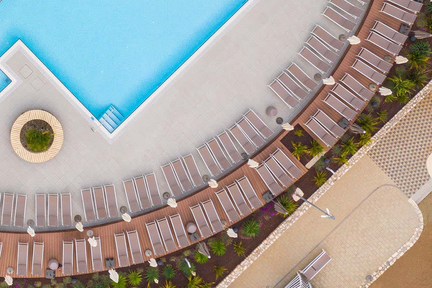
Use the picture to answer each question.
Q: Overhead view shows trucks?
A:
No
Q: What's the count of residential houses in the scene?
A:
zero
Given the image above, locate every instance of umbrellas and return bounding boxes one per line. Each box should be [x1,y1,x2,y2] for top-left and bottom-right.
[162,190,177,206]
[383,53,410,64]
[337,33,362,43]
[86,229,98,246]
[74,213,85,230]
[368,83,394,94]
[104,257,120,281]
[241,151,259,165]
[143,248,158,267]
[338,117,369,132]
[221,218,237,235]
[262,191,287,211]
[201,173,218,188]
[25,219,35,236]
[400,24,432,35]
[313,73,335,84]
[275,116,295,129]
[5,266,15,285]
